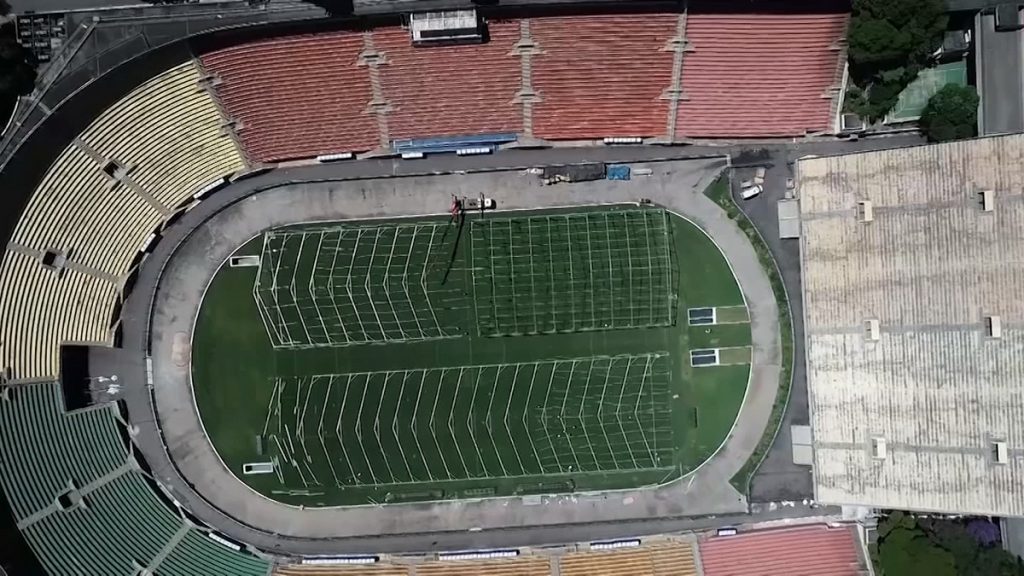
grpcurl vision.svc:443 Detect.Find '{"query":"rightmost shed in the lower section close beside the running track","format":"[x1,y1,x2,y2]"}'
[787,423,813,464]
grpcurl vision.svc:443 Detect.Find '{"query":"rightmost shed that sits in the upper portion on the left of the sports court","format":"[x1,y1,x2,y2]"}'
[836,114,867,133]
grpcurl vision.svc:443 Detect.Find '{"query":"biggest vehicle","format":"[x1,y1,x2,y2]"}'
[423,190,495,275]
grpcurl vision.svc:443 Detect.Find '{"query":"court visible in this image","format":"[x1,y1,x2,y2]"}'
[884,59,967,123]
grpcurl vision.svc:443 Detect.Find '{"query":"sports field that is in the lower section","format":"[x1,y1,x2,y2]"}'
[191,204,752,508]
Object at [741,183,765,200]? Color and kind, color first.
white vehicle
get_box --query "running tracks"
[148,155,781,538]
